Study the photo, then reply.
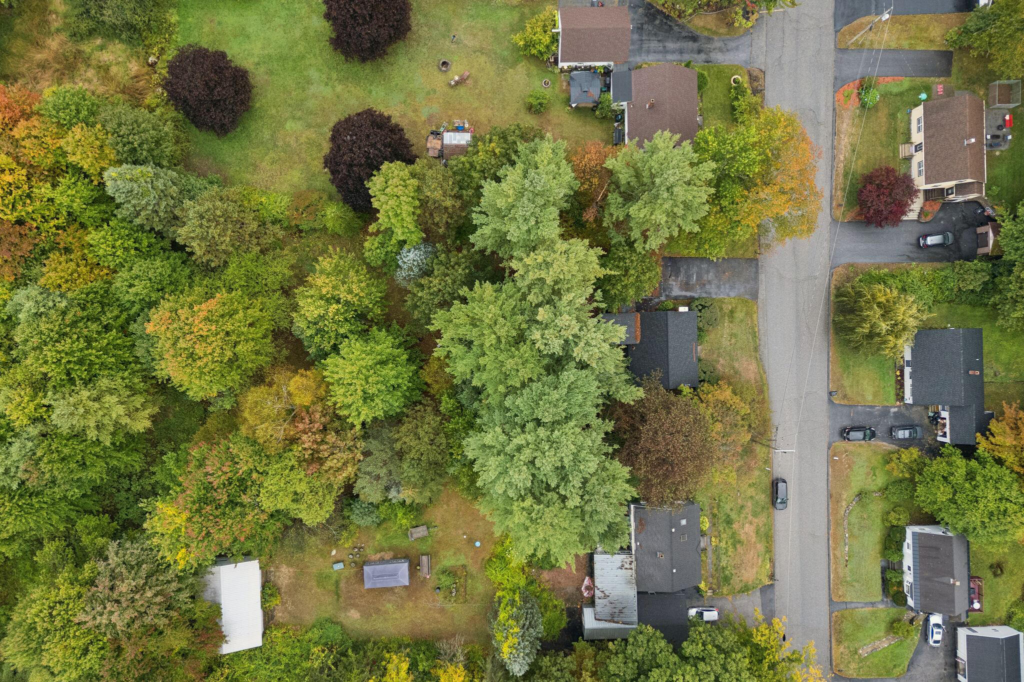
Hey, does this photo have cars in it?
Yes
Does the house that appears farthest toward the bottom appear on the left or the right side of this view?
right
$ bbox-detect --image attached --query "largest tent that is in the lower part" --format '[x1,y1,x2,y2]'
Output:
[364,558,411,588]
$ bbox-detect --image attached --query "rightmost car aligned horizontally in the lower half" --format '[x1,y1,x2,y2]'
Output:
[888,425,921,440]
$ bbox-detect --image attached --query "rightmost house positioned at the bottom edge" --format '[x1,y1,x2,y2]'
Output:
[954,627,1021,682]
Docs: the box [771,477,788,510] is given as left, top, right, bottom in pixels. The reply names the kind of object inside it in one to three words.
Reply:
car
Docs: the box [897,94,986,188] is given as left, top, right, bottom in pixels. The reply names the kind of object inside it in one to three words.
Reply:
house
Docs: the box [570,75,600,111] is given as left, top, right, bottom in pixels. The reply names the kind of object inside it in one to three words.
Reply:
gazebo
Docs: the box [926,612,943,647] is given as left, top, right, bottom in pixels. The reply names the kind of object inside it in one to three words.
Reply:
car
